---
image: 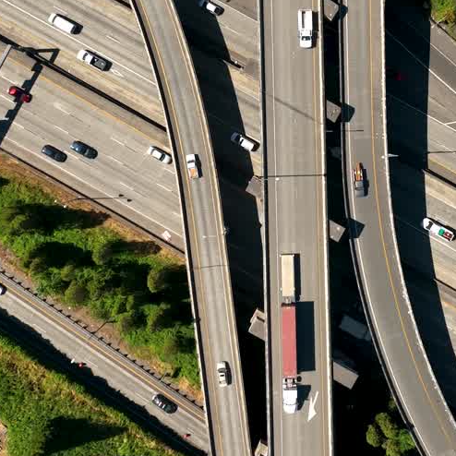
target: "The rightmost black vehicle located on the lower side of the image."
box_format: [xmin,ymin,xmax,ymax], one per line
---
[151,393,177,412]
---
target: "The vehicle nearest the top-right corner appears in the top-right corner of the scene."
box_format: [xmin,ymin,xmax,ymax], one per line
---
[384,65,406,85]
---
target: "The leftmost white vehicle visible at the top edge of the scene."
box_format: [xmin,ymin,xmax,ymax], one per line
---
[50,13,80,35]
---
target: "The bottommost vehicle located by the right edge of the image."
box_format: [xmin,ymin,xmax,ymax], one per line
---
[423,217,455,241]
